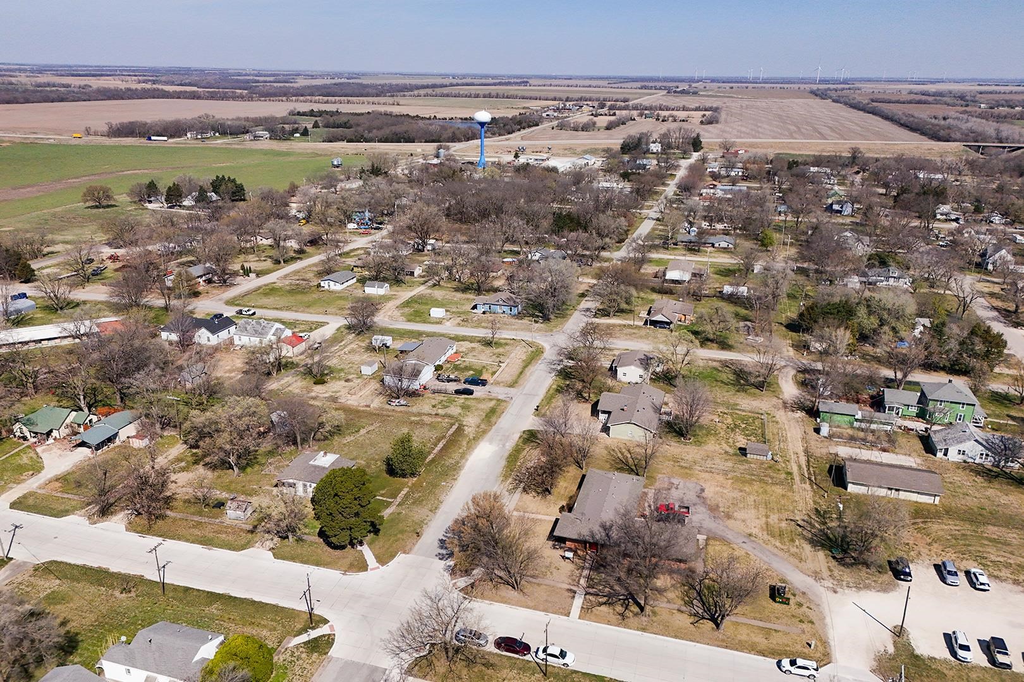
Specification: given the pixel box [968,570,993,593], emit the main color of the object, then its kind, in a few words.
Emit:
white car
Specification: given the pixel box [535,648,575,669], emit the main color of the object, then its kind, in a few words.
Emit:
white car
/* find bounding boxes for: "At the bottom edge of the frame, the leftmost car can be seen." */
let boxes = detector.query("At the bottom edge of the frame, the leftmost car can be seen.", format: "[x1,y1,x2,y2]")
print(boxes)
[452,625,489,648]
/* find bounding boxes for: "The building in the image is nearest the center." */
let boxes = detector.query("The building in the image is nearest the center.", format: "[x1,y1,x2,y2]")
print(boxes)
[470,293,528,315]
